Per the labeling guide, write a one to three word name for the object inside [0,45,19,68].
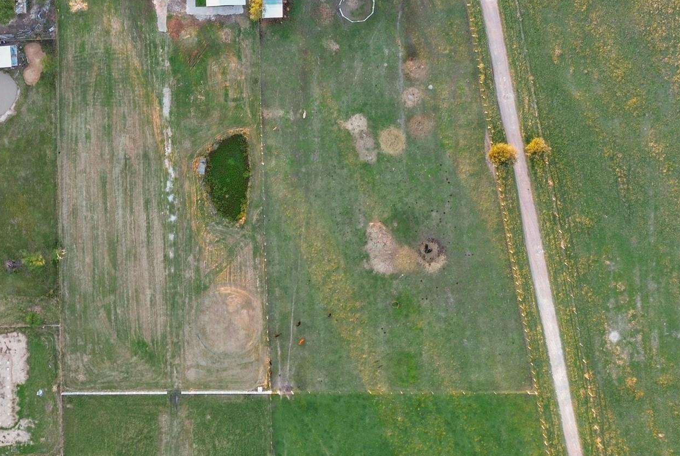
shed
